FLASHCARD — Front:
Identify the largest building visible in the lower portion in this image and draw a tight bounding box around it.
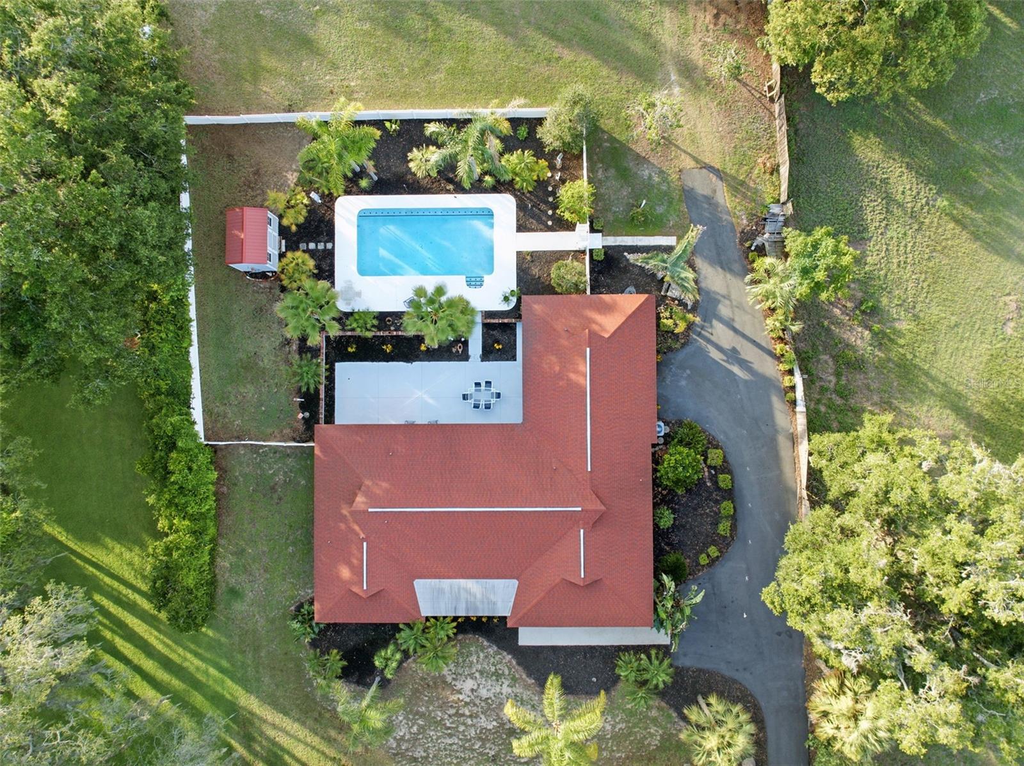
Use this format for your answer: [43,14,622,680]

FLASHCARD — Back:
[313,293,654,628]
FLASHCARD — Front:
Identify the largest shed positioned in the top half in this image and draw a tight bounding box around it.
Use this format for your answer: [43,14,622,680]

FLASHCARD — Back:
[225,203,277,269]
